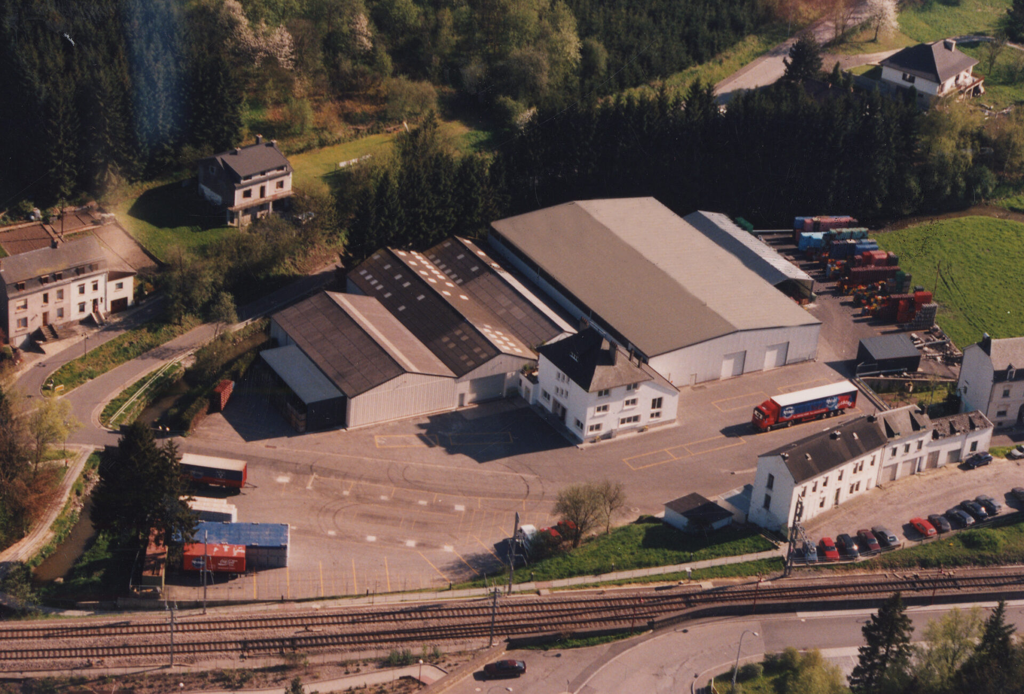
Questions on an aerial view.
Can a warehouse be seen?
Yes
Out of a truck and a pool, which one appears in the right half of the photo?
truck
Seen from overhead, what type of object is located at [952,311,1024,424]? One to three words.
house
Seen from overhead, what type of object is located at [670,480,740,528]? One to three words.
shed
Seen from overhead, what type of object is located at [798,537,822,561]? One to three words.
car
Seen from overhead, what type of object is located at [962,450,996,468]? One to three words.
car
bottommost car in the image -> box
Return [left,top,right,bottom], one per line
[486,660,526,679]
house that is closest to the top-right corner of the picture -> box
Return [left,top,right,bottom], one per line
[879,49,994,118]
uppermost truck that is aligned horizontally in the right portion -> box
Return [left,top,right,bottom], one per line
[749,379,861,429]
